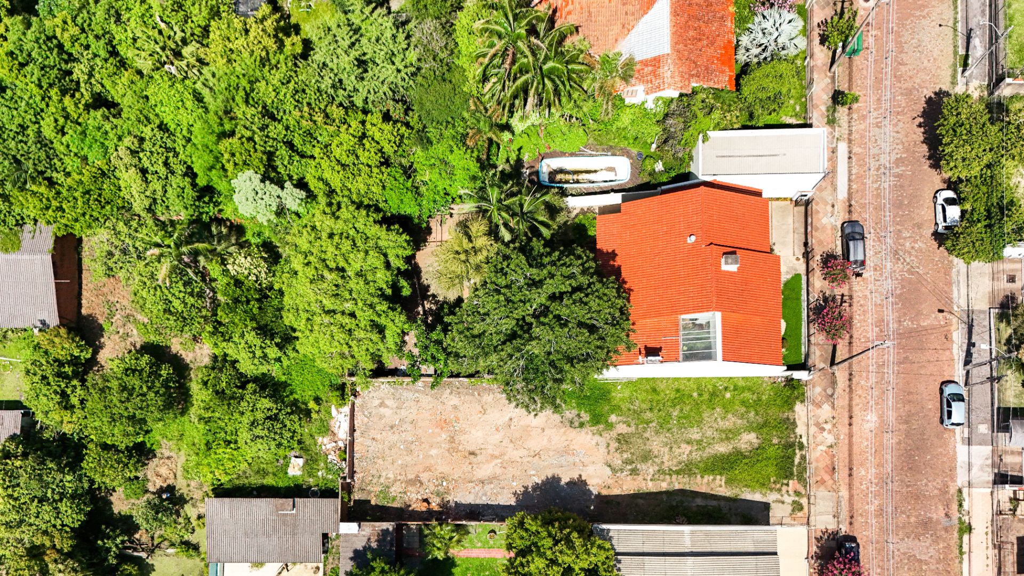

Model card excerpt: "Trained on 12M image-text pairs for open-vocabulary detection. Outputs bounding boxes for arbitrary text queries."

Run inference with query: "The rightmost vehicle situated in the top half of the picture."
[933,187,964,236]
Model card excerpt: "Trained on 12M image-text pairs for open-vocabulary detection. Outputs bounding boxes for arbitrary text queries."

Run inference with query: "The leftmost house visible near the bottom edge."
[204,498,347,563]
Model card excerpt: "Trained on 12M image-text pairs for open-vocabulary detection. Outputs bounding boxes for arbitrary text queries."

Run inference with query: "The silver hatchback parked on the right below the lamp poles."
[939,382,970,429]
